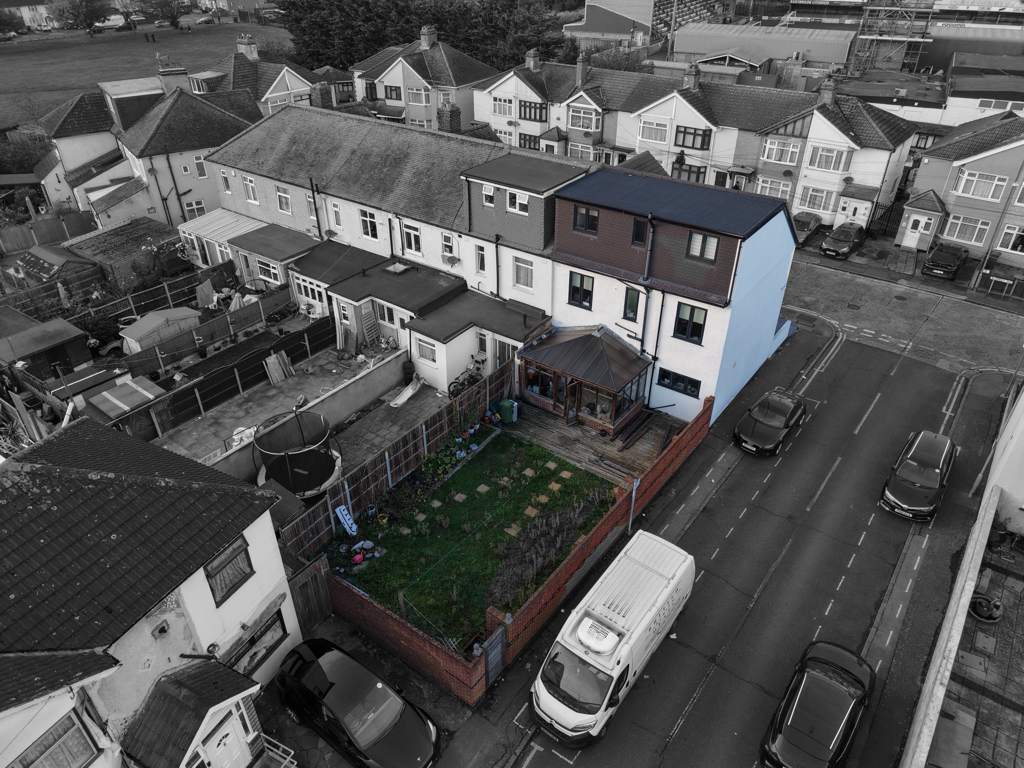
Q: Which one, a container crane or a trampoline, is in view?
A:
trampoline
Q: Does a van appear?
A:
Yes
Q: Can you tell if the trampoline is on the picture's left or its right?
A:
left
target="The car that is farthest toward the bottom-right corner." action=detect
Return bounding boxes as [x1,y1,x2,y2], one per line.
[749,646,882,768]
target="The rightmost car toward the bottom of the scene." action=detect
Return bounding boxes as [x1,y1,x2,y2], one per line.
[876,428,960,528]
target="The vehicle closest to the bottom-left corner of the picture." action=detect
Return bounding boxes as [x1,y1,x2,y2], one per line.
[261,640,448,768]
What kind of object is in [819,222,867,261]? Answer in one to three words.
car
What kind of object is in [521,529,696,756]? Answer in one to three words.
van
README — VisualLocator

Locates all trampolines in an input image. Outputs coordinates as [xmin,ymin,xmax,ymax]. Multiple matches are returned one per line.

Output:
[252,412,342,496]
